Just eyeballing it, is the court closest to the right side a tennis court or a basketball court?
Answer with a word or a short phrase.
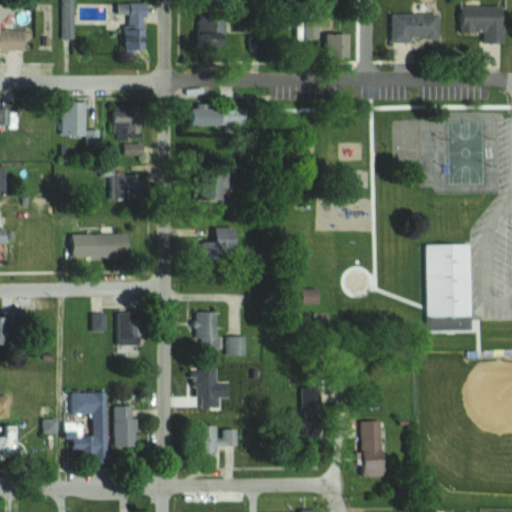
basketball court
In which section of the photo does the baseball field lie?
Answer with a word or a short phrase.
bottom right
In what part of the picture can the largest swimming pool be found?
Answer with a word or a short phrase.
top left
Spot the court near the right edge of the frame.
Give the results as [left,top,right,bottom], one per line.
[392,112,499,194]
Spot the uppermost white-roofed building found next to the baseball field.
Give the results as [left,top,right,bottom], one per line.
[426,244,472,330]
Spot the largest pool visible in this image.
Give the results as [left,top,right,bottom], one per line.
[75,4,112,26]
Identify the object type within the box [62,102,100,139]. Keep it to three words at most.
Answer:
house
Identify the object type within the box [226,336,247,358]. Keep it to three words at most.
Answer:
building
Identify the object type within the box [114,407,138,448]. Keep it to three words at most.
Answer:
house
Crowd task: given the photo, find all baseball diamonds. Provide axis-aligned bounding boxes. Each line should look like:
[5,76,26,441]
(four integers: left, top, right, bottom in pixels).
[418,352,512,496]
